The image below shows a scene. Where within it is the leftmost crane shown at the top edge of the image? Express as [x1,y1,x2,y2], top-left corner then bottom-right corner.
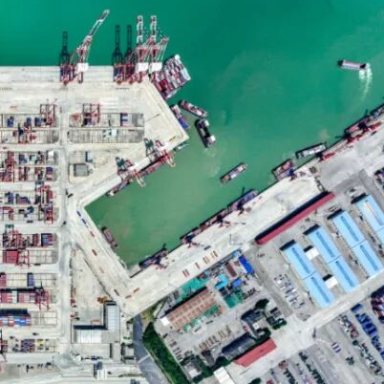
[70,7,104,87]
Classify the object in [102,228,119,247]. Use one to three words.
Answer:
ship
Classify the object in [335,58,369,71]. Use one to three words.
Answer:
ship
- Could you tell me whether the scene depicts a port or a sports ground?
port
